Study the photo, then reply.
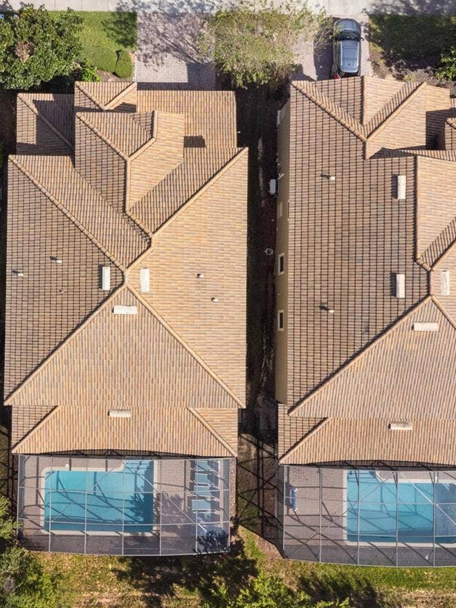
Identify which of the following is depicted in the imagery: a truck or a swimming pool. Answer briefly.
swimming pool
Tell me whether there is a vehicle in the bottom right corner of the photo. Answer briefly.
No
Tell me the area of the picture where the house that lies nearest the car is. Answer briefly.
right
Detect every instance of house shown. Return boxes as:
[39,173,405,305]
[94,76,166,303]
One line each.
[2,80,251,458]
[274,76,456,468]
